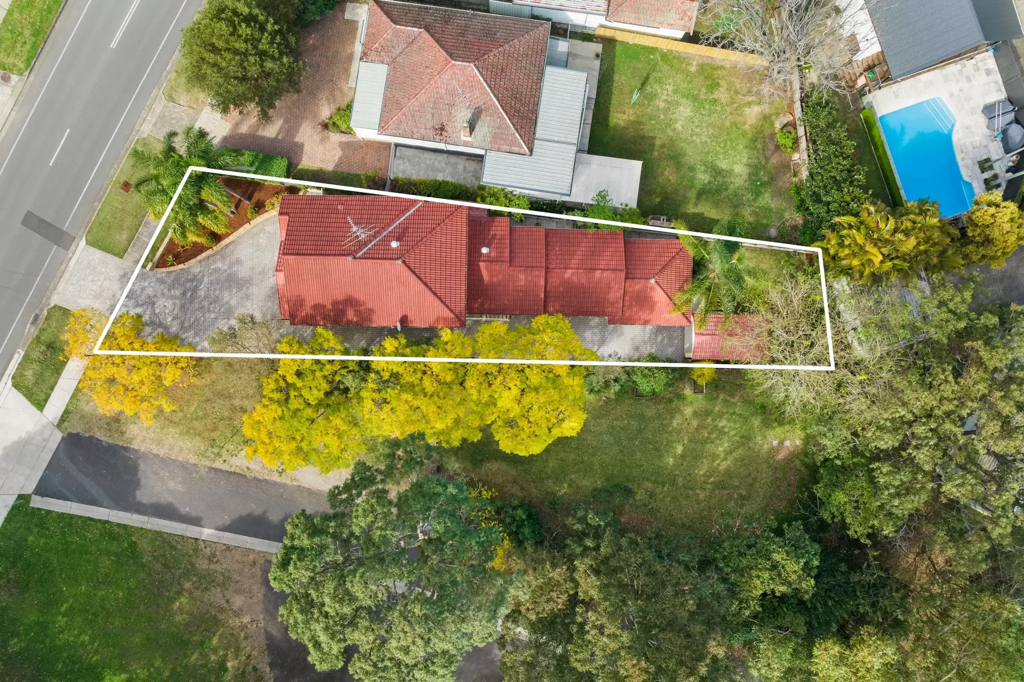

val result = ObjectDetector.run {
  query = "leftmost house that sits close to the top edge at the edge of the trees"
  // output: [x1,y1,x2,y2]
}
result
[349,0,592,200]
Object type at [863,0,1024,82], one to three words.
building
